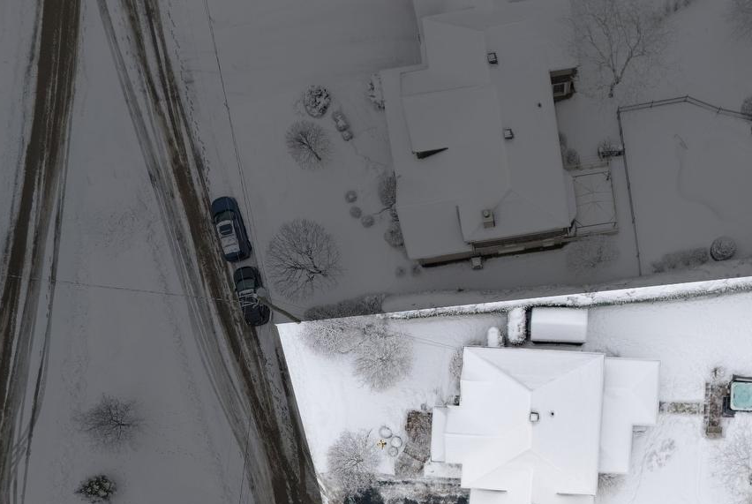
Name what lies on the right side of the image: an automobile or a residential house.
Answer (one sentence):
Looking on the right side of the image, you will find a residential house.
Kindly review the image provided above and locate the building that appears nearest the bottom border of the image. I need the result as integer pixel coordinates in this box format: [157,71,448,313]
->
[431,346,661,504]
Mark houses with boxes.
[380,0,579,260]
[431,346,661,504]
